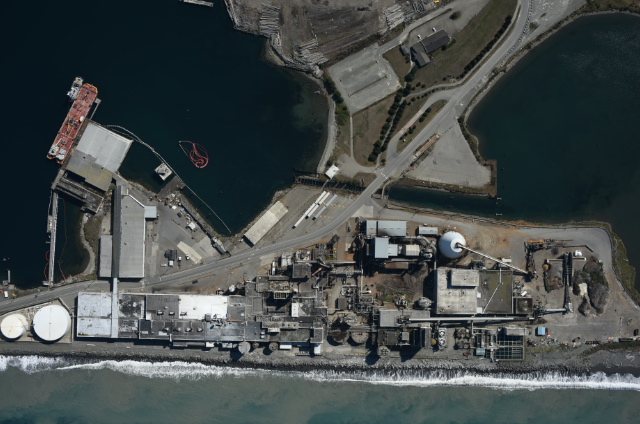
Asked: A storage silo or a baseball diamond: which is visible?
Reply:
storage silo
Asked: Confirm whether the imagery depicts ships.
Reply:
Yes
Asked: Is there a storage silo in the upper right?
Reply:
No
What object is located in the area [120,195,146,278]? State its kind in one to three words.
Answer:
shed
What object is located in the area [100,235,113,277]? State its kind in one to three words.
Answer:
shed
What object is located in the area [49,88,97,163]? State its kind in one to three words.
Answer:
ship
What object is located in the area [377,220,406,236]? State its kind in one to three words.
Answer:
house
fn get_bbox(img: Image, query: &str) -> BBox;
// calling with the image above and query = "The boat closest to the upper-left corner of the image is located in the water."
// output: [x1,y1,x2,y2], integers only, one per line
[71,77,85,99]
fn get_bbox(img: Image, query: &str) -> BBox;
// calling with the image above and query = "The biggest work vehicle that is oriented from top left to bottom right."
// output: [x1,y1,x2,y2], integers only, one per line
[211,236,228,256]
